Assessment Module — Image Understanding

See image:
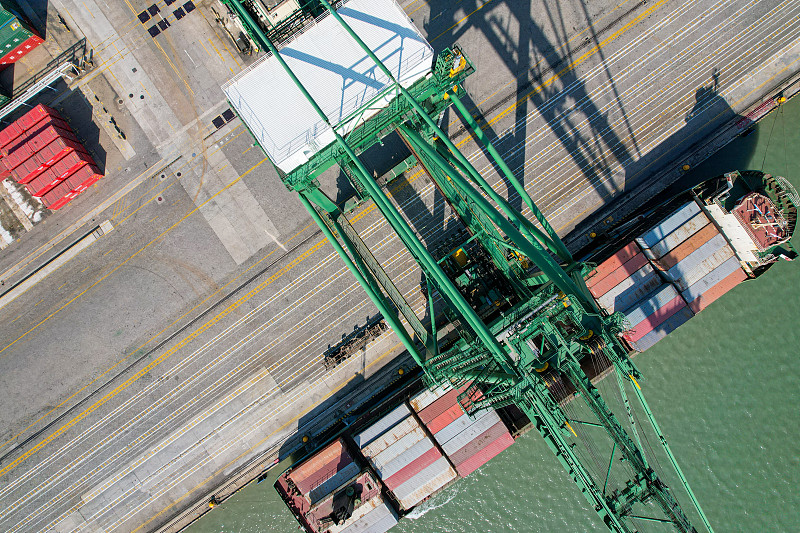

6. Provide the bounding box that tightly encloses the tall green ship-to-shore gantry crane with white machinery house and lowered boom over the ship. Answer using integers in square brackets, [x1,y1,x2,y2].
[219,0,715,533]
